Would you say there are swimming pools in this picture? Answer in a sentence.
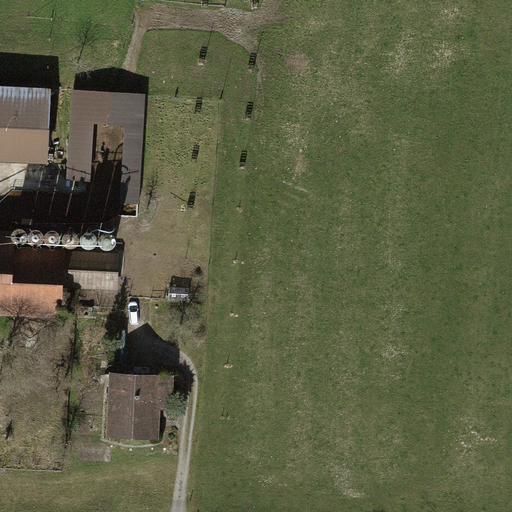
No, I can see no swimming pool in this picture.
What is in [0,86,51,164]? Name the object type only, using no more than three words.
barn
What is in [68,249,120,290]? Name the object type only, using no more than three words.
shed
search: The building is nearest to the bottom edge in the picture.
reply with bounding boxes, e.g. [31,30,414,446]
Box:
[103,367,175,442]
